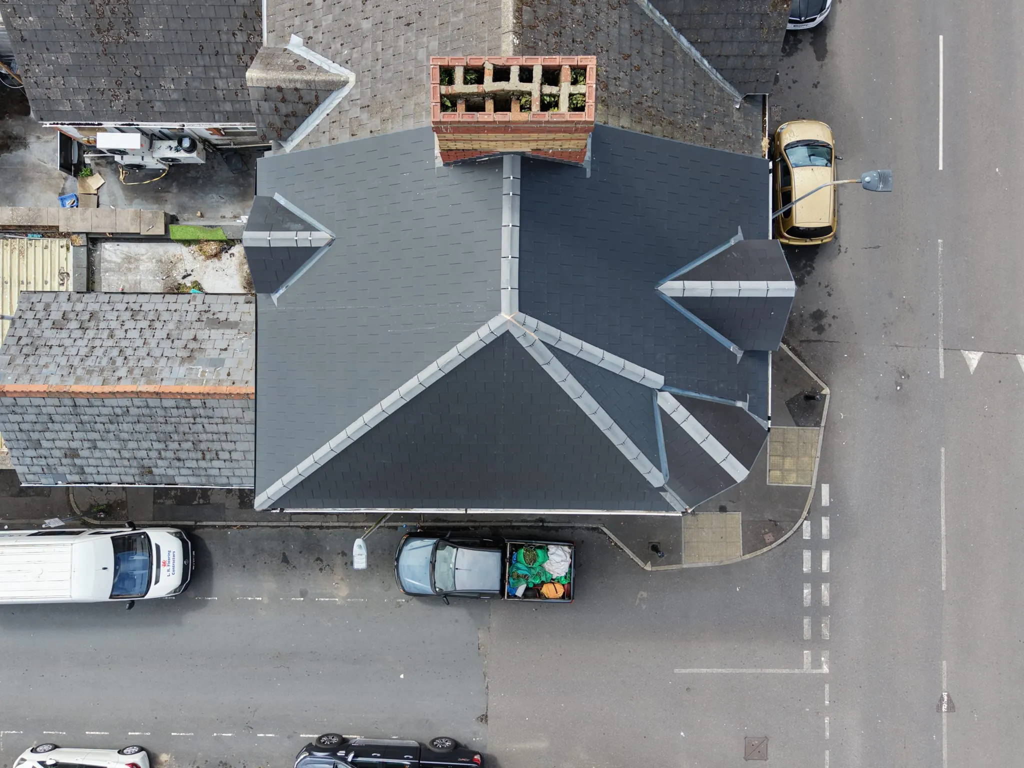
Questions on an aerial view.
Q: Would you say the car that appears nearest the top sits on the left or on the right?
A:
right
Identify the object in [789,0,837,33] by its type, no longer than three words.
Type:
car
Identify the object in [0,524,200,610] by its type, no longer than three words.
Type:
van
